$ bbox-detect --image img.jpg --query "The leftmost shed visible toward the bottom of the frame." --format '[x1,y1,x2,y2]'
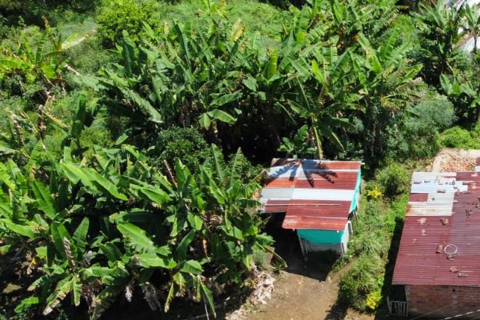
[262,158,366,260]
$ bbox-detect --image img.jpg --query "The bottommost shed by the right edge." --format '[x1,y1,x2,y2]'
[392,166,480,318]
